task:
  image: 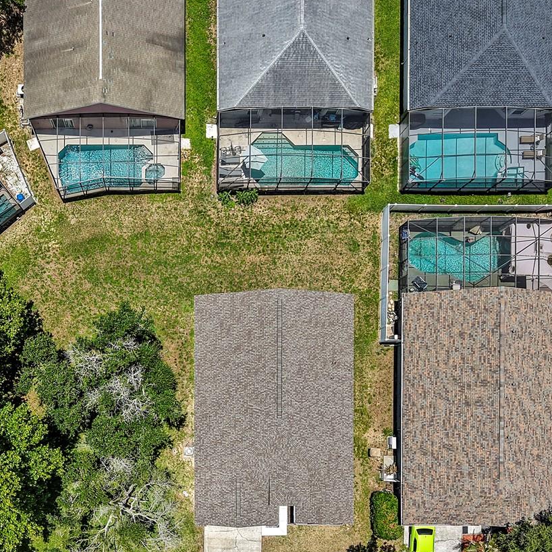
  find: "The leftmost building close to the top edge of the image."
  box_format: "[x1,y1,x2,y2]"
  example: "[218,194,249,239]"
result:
[24,0,185,129]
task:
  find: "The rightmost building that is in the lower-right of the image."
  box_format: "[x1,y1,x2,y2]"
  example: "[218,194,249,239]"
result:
[397,287,552,526]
